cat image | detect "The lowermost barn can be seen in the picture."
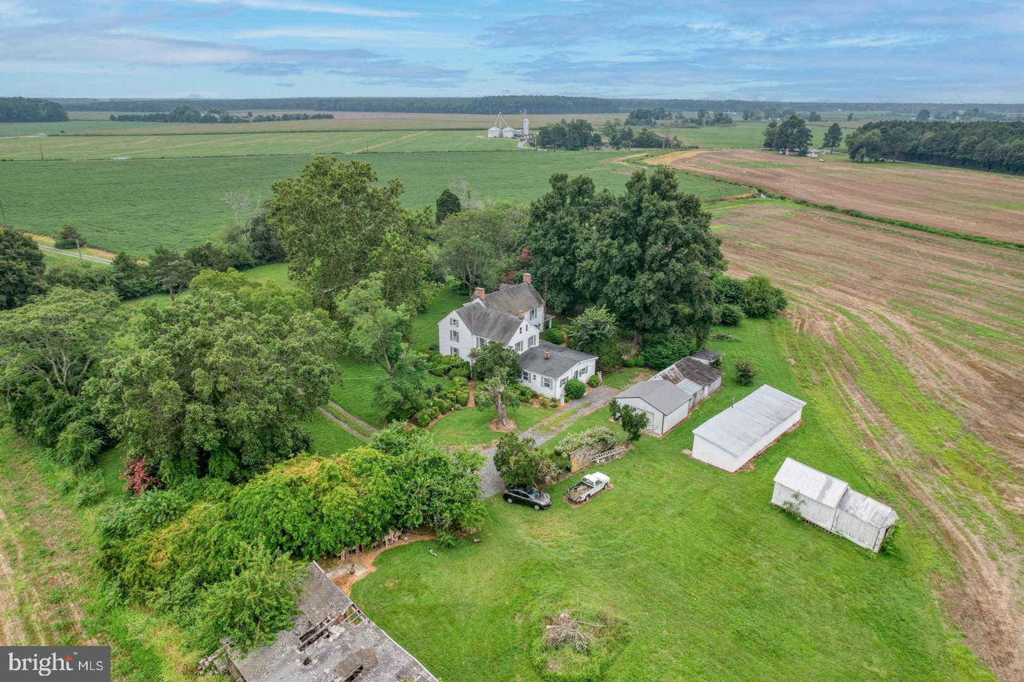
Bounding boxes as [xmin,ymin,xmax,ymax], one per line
[213,558,442,682]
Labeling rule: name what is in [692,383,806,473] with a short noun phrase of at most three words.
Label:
shed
